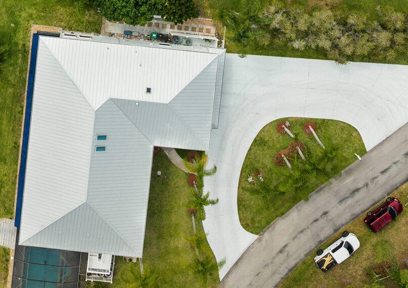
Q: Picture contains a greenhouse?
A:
No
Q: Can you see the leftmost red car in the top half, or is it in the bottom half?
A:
bottom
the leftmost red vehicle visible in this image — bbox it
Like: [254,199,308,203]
[361,198,401,233]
